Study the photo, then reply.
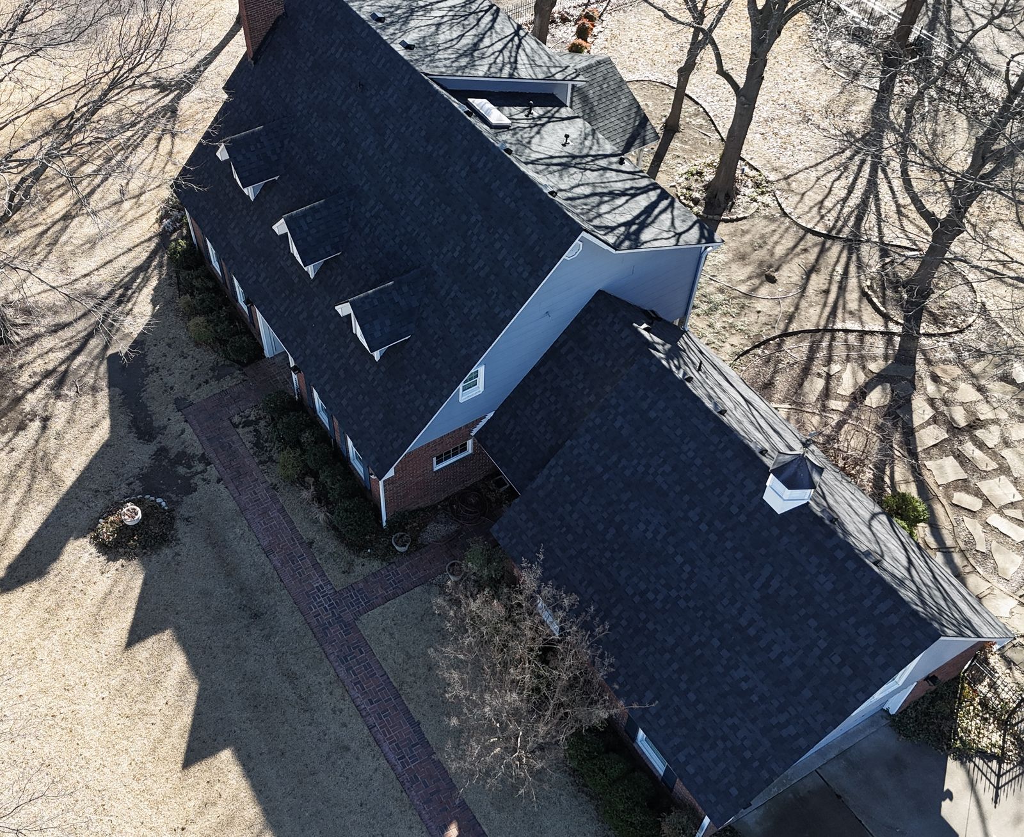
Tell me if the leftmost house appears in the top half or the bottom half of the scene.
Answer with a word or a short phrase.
top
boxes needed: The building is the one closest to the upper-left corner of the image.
[171,0,722,528]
